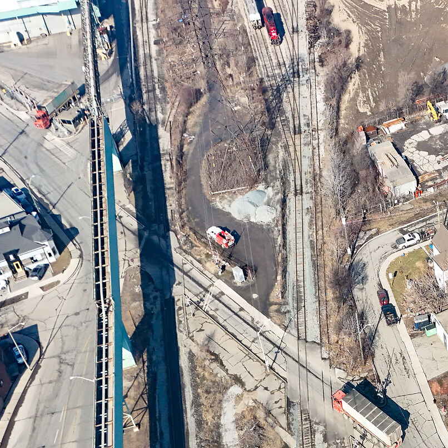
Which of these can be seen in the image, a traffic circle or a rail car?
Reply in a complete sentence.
Of the two, only a rail car appears.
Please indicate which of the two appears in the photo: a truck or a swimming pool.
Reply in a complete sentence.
The one in the frame is a truck.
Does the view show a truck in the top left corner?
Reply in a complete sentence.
Yes, a truck is visible in the top left corner.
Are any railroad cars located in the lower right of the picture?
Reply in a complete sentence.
No, no railroad car can be made out in the lower right of the picture.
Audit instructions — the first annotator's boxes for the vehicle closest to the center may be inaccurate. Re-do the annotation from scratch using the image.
[207,227,235,247]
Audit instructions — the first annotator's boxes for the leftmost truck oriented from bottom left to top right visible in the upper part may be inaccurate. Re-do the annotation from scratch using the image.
[36,79,88,125]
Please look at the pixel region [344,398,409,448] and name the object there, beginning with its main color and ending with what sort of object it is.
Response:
white truck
